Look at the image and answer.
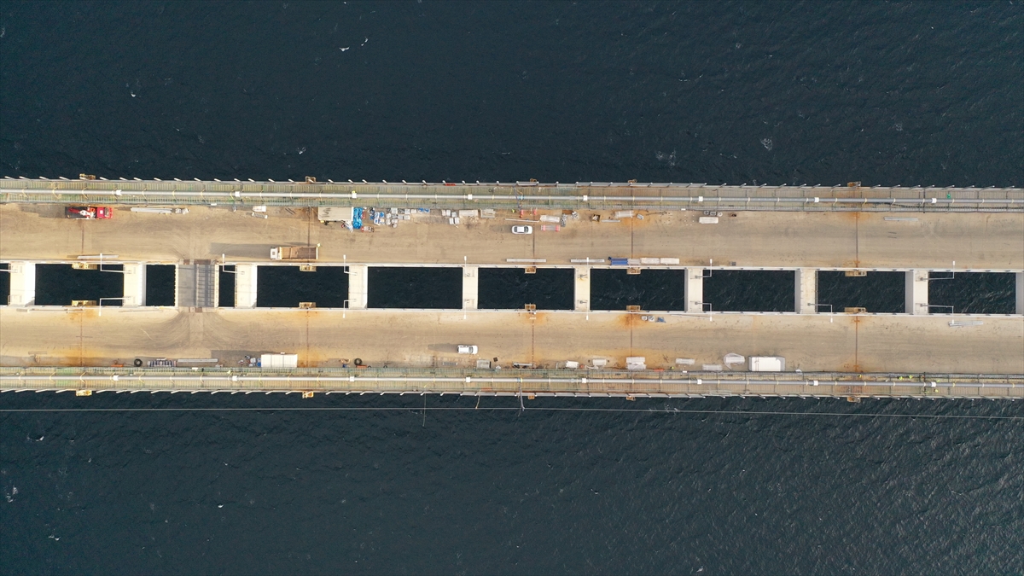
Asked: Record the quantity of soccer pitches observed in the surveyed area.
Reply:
0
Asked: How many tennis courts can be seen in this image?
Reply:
0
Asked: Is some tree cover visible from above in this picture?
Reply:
No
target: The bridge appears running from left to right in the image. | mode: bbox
[0,178,1024,400]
